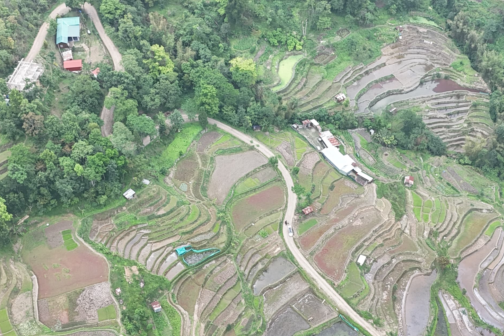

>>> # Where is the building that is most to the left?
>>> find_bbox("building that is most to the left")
[5,60,39,93]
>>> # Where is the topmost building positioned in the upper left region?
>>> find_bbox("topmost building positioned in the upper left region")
[56,16,82,52]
